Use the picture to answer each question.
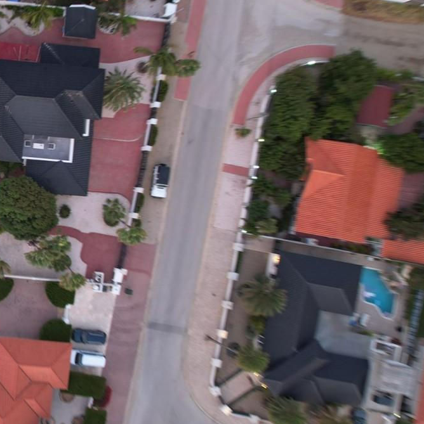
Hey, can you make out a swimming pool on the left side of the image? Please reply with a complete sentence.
No, looking on the left side of the image, there is no swimming pool.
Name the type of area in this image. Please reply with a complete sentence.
It's a residential area.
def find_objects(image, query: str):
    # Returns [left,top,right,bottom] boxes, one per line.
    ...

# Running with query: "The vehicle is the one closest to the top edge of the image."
[151,163,170,198]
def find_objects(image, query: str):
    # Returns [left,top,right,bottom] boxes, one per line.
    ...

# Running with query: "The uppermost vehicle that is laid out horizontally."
[73,329,108,348]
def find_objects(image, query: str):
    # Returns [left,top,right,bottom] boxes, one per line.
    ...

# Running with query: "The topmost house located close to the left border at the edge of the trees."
[0,39,105,197]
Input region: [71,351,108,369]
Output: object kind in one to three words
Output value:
car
